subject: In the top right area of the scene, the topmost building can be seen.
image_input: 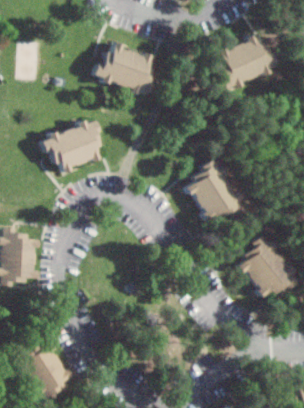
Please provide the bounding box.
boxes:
[220,38,274,89]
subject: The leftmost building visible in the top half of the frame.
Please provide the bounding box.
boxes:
[42,121,105,170]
